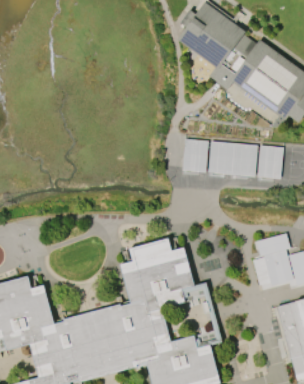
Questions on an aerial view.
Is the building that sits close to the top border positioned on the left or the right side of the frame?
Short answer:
right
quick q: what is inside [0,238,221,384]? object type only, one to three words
building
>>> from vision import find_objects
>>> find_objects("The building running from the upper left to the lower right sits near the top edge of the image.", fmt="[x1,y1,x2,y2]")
[182,0,304,124]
